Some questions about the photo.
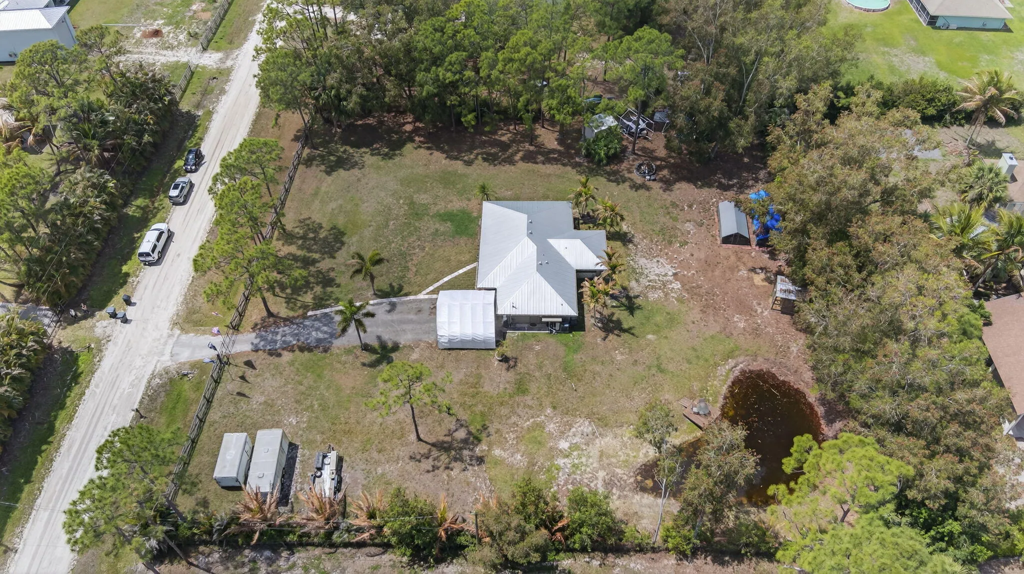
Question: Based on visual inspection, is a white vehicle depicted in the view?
Yes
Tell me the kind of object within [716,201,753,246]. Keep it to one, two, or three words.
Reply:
building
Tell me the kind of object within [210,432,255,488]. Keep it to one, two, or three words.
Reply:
trailer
